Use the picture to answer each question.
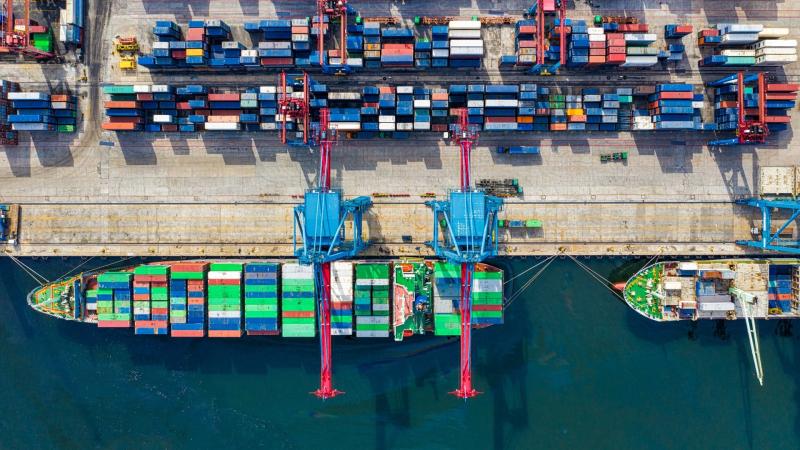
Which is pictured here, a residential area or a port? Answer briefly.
port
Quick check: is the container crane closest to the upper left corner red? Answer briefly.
Yes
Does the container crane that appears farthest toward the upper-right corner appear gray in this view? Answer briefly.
No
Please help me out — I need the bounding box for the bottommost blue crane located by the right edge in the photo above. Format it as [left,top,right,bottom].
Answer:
[738,197,800,249]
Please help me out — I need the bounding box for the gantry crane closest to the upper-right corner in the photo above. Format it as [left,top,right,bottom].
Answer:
[709,70,769,150]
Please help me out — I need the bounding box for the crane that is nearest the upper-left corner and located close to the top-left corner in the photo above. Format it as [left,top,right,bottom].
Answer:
[5,0,67,60]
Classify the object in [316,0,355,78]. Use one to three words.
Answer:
container crane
